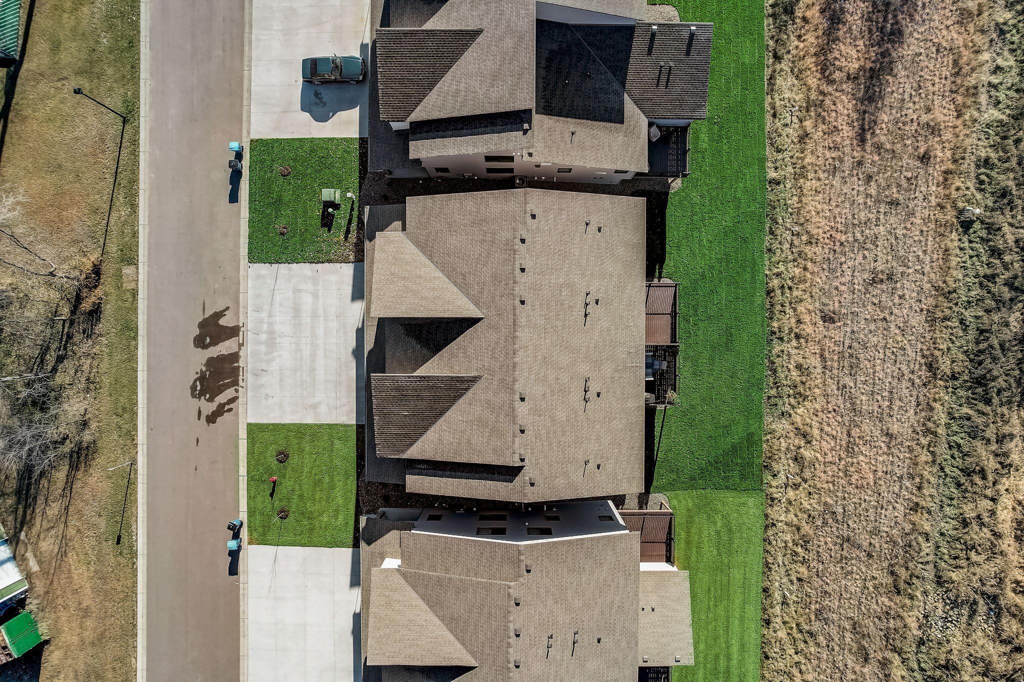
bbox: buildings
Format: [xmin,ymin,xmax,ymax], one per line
[0,0,27,56]
[361,502,697,682]
[368,0,714,188]
[365,188,683,503]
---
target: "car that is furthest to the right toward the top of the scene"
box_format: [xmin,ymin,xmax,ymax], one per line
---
[300,52,365,84]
